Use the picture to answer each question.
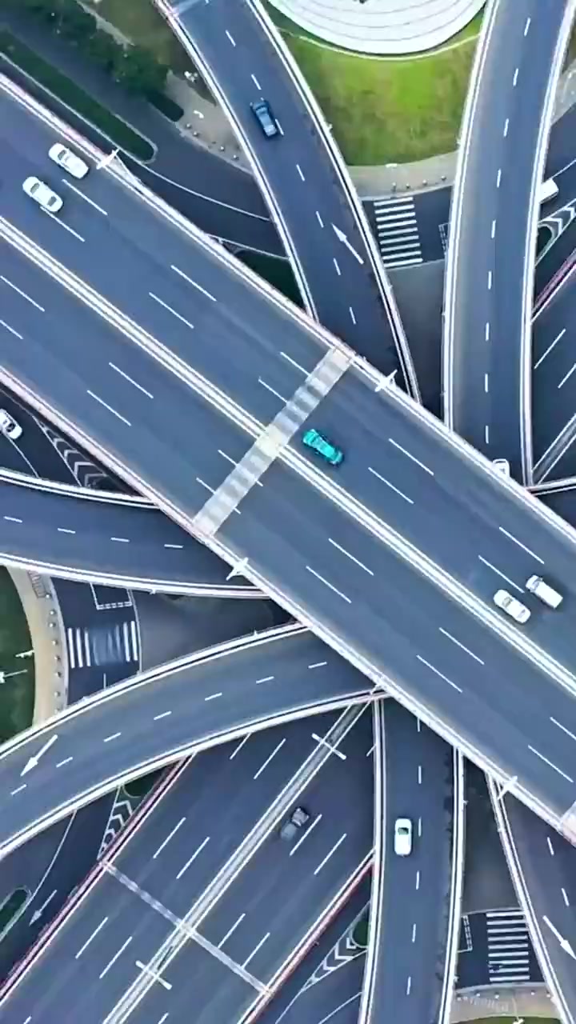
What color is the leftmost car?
white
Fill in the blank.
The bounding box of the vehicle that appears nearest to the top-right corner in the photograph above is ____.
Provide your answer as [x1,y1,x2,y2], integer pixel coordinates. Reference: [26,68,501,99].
[542,180,557,202]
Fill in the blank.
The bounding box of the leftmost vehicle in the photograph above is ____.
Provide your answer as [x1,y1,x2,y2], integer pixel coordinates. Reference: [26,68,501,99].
[0,403,24,438]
